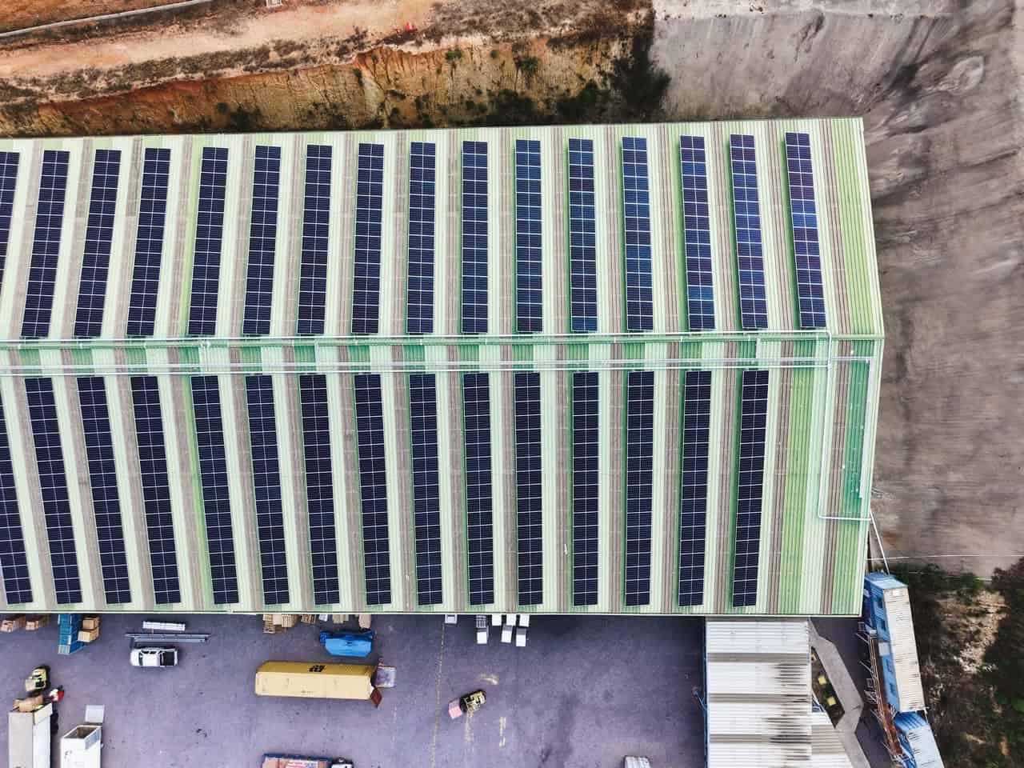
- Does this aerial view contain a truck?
Yes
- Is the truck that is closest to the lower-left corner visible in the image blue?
No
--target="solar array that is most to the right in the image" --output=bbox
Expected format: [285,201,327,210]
[784,133,827,330]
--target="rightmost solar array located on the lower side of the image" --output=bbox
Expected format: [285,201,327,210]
[731,369,770,606]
